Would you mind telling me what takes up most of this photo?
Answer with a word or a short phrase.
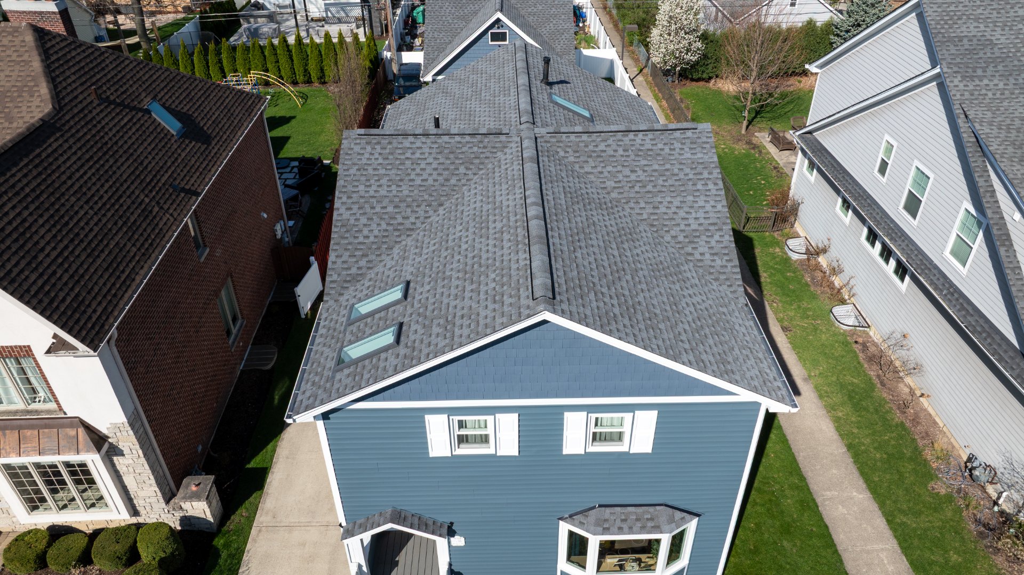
buildings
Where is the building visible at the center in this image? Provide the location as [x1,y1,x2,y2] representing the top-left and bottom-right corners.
[285,37,803,575]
